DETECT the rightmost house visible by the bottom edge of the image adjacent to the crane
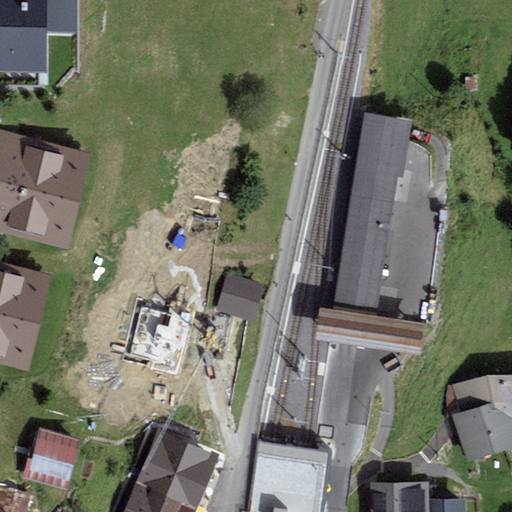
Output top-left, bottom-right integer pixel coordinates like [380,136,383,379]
[119,434,225,512]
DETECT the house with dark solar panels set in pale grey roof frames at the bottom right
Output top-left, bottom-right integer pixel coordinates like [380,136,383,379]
[372,482,430,512]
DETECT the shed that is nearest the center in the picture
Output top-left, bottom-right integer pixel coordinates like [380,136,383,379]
[217,276,264,322]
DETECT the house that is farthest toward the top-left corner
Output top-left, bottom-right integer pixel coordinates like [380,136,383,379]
[0,0,76,73]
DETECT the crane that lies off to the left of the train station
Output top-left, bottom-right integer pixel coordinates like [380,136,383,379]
[143,328,218,470]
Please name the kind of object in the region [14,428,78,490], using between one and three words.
barn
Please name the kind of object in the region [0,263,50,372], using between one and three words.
house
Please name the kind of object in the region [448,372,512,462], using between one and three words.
house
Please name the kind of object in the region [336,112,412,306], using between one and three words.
building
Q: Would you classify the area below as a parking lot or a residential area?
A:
residential area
